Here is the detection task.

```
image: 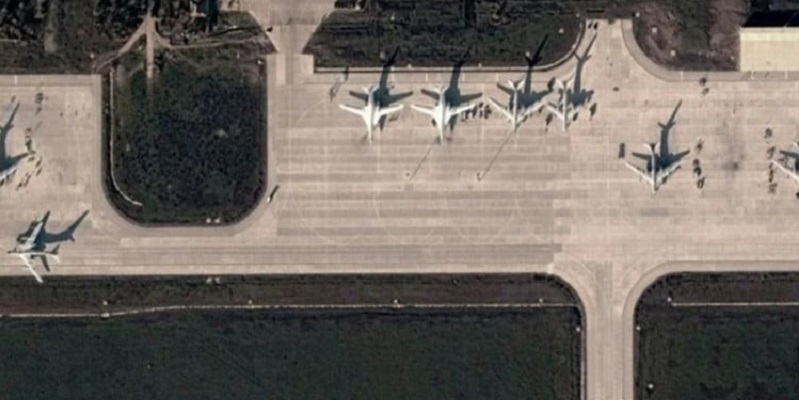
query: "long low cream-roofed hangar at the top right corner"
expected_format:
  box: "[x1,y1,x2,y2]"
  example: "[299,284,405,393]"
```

[740,26,799,71]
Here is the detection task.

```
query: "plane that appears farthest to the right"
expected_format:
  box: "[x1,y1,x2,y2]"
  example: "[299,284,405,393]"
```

[772,141,799,192]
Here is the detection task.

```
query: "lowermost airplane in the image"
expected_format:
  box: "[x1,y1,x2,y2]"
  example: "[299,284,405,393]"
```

[9,221,61,281]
